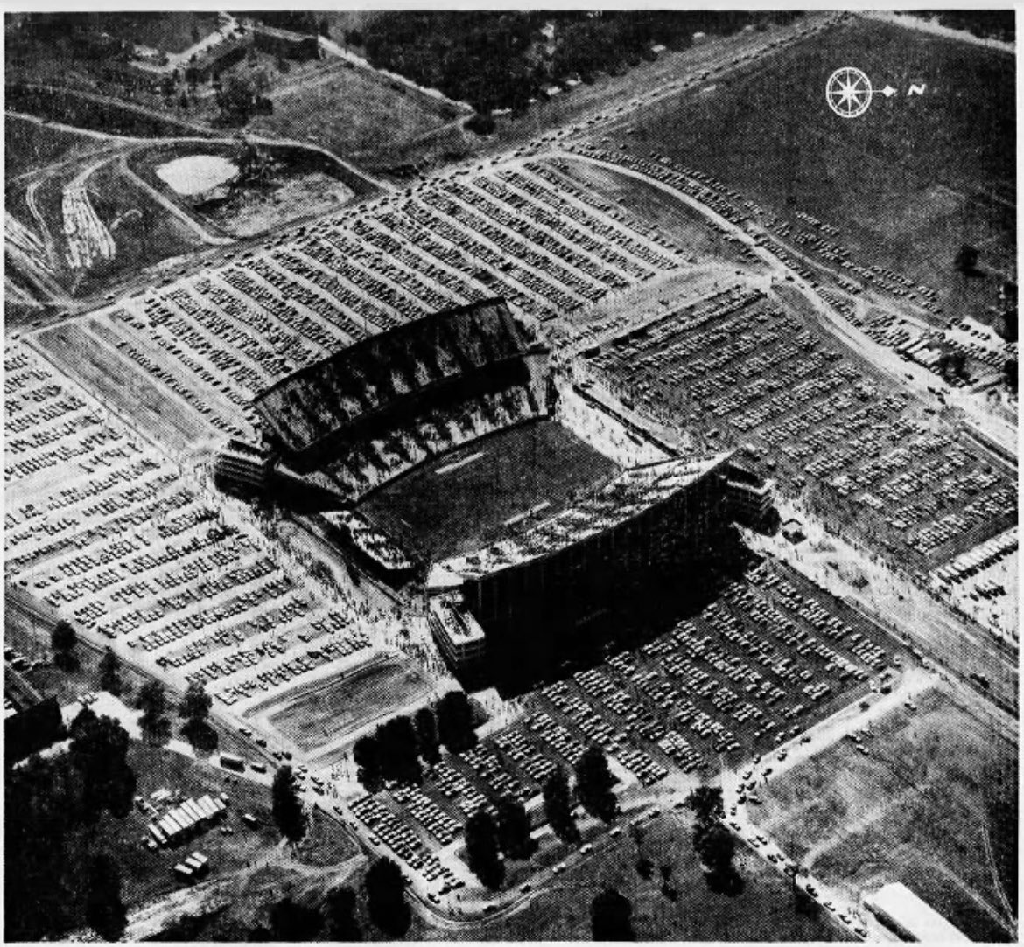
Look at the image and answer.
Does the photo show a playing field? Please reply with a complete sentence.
Yes, there's a playing field down there.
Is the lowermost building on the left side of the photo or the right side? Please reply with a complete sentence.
The lowermost building sits on the right side.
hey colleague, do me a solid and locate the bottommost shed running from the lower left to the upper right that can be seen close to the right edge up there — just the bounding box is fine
[964,366,1000,405]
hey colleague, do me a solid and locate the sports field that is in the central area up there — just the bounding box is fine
[346,414,622,572]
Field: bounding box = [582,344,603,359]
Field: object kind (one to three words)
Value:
vehicle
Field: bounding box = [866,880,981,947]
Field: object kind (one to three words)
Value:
building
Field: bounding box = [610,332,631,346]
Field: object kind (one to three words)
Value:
vehicle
